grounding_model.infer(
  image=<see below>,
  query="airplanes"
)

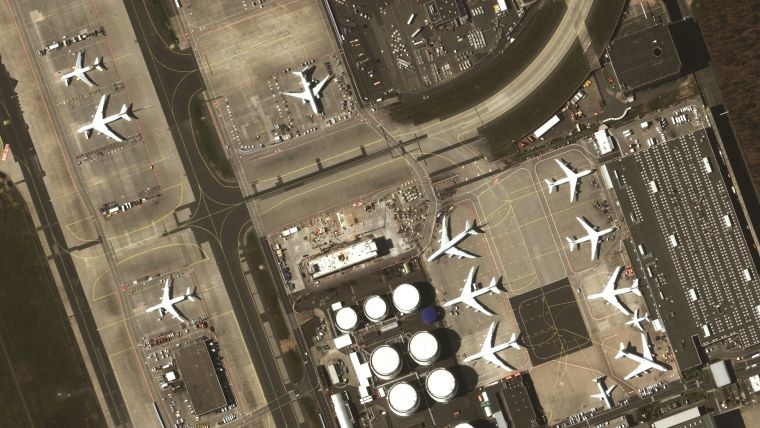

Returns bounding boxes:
[464,322,522,373]
[79,95,133,143]
[427,214,482,262]
[615,333,671,383]
[588,265,641,315]
[591,375,618,408]
[444,266,501,317]
[146,278,196,324]
[626,309,649,331]
[280,66,330,113]
[63,50,105,86]
[543,157,593,202]
[566,216,615,260]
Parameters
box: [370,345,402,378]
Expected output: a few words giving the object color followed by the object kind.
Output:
white storage tank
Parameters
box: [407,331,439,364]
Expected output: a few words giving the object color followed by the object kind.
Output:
white storage tank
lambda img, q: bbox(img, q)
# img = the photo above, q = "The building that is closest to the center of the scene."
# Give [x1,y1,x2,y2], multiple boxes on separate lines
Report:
[309,241,379,279]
